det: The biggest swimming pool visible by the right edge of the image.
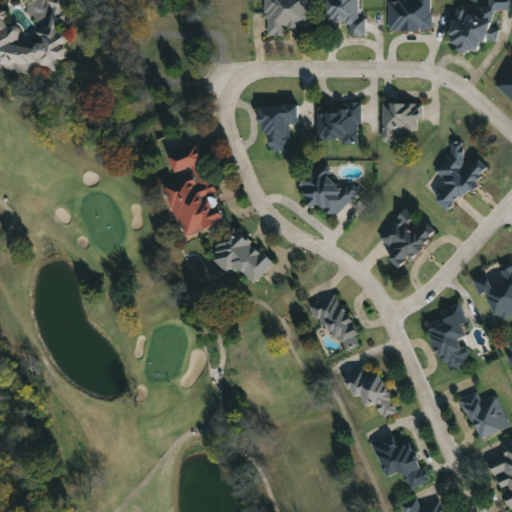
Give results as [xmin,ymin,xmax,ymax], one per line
[464,326,490,354]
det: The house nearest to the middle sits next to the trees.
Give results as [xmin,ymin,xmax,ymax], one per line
[214,236,275,286]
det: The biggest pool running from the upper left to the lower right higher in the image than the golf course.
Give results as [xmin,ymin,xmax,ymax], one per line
[8,1,38,36]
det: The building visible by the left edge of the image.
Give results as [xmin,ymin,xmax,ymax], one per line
[0,0,71,76]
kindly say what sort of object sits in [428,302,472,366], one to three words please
house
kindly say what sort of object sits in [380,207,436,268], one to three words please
house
